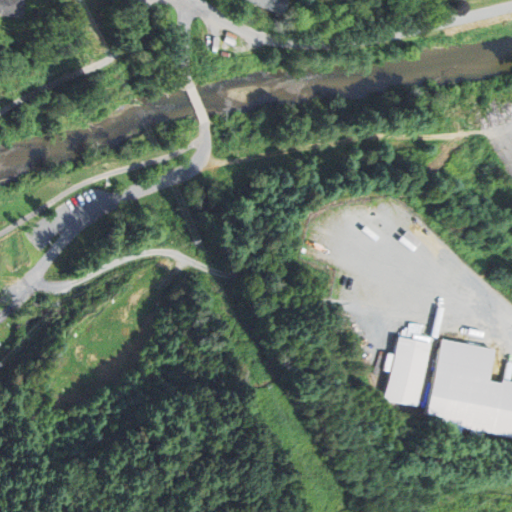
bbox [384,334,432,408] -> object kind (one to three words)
shed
